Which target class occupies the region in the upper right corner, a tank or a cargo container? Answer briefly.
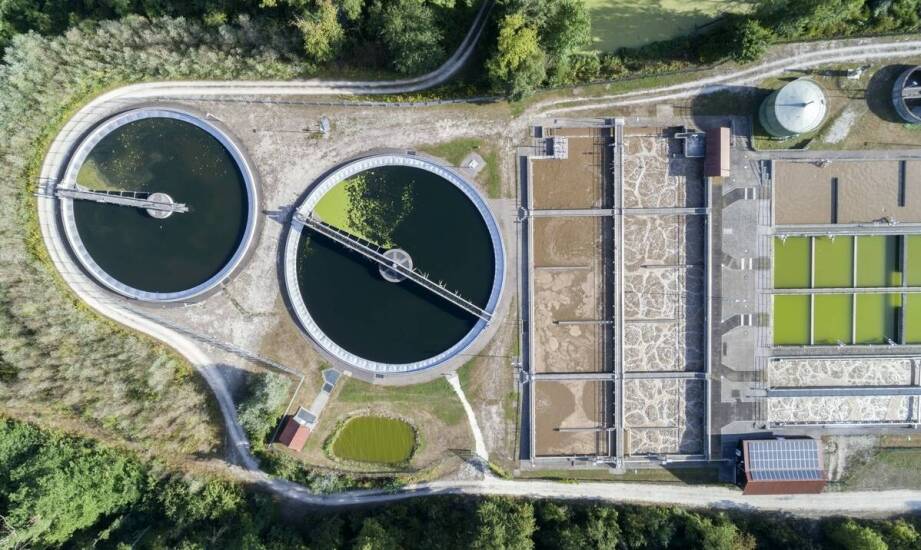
tank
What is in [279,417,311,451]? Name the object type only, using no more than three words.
shed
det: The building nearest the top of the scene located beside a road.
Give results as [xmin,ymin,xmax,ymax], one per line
[705,125,729,177]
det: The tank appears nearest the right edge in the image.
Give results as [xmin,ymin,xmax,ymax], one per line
[891,66,921,128]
